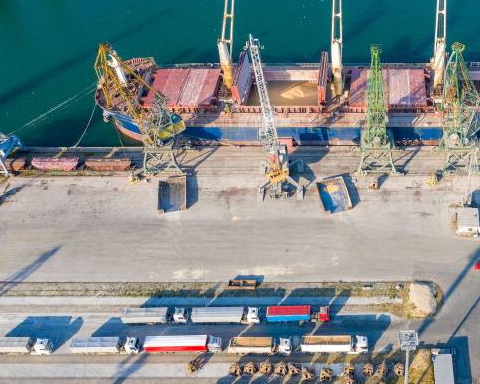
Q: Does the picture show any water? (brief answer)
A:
Yes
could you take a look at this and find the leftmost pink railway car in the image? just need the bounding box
[26,156,81,170]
